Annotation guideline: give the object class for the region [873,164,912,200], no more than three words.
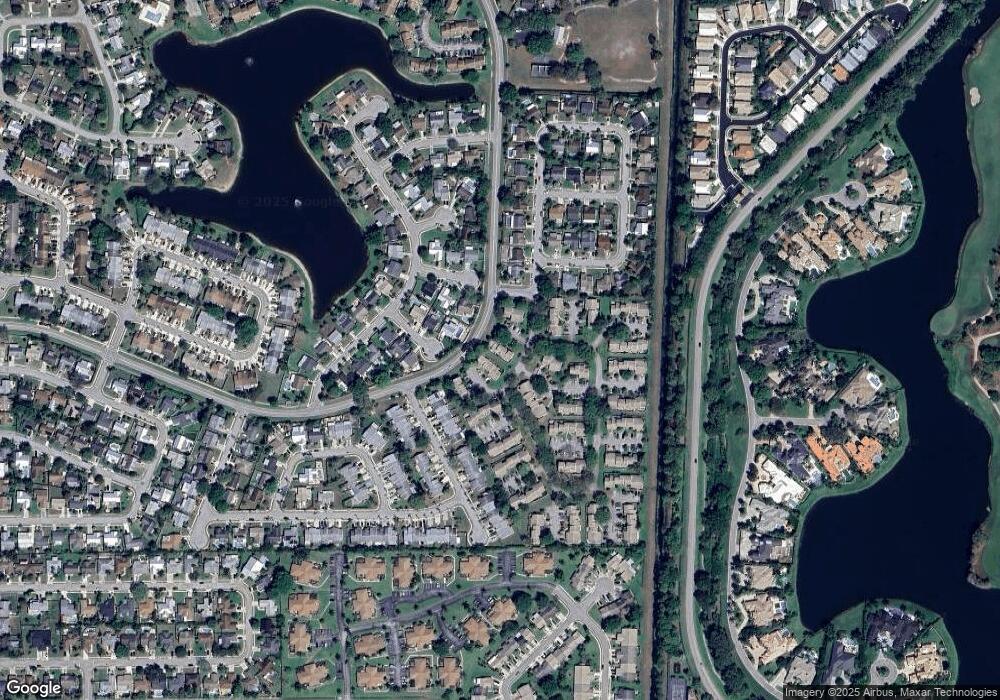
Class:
house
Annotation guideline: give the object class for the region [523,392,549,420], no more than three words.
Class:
building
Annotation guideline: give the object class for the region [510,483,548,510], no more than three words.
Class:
building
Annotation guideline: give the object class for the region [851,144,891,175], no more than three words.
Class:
house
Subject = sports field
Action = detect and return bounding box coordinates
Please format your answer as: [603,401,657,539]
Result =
[575,0,658,80]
